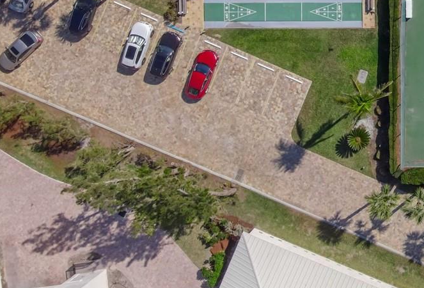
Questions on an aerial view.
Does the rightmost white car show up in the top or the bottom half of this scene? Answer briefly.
top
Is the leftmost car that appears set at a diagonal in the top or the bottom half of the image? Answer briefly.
top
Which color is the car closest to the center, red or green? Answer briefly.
red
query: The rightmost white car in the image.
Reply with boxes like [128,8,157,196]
[117,23,152,72]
